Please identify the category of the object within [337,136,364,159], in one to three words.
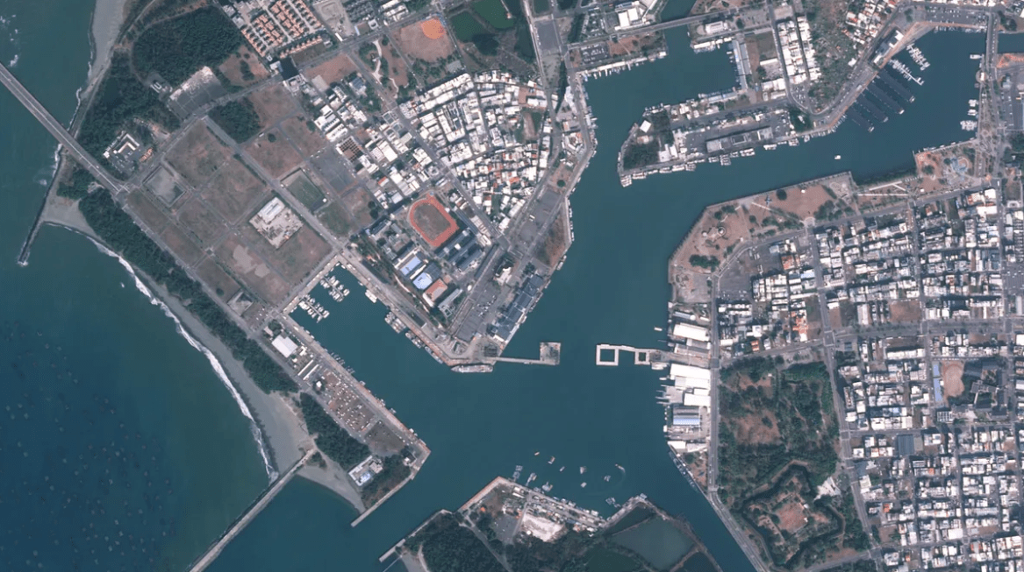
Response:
building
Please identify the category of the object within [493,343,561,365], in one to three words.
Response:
pier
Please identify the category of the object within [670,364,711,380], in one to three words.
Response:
building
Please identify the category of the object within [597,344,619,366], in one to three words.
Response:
pier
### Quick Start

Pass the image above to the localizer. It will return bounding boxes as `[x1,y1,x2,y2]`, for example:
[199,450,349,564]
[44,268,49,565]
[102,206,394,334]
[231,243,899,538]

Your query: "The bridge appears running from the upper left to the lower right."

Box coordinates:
[0,64,124,191]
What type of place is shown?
residential area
